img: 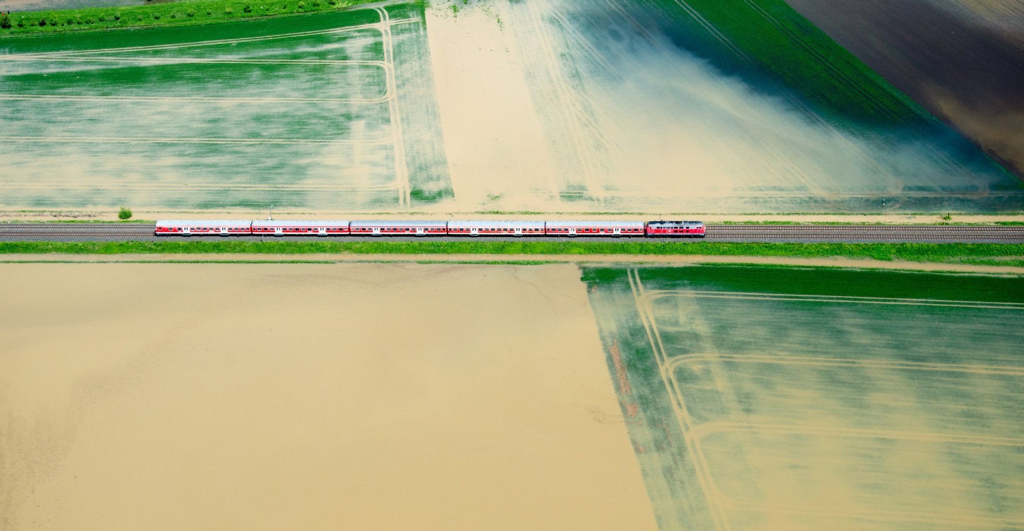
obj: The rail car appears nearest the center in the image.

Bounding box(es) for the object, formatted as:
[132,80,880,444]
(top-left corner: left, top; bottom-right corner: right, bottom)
[447,221,546,237]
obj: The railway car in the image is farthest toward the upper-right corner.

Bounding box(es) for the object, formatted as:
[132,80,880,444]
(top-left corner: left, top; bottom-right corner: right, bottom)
[645,220,706,238]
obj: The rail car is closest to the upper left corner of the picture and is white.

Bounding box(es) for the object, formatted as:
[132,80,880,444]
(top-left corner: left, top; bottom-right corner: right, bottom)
[153,220,251,236]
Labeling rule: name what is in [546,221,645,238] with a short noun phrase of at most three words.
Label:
rail car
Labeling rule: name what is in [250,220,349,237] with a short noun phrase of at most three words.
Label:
rail car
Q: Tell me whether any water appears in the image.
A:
Yes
